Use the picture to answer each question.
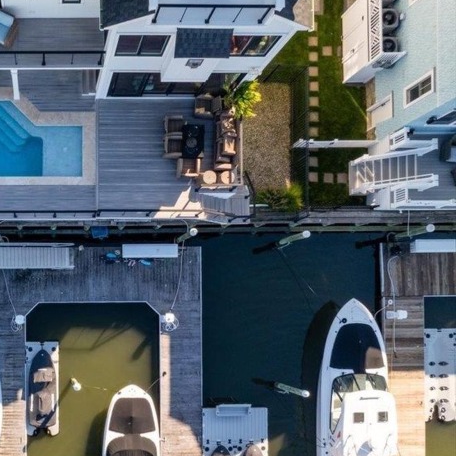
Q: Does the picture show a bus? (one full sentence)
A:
No, there isn't any bus down there.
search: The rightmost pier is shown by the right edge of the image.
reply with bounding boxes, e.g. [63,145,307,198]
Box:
[426,329,456,422]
